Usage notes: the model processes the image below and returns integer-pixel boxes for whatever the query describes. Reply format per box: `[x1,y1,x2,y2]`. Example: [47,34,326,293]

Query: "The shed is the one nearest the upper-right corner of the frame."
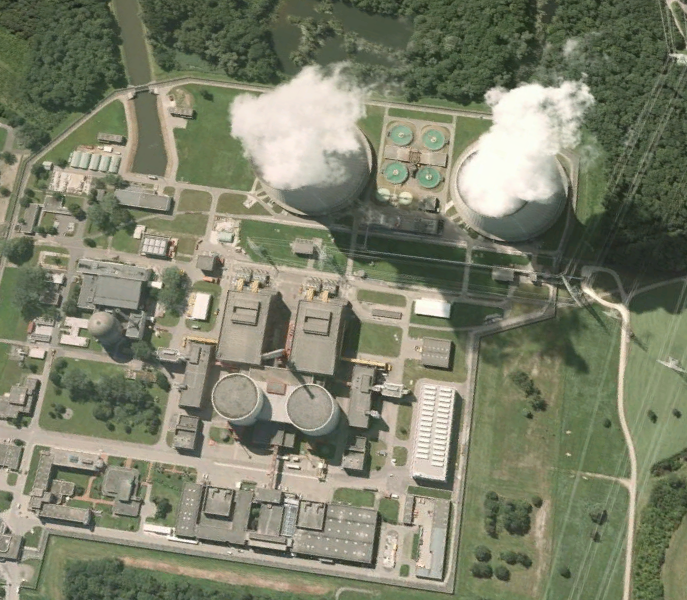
[420,152,448,166]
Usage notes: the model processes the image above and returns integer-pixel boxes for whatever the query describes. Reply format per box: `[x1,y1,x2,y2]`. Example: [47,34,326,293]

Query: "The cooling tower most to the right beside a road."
[454,129,567,242]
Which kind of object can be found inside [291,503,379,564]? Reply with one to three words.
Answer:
building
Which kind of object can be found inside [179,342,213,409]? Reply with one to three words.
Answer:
building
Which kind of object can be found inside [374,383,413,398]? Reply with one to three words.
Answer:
house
